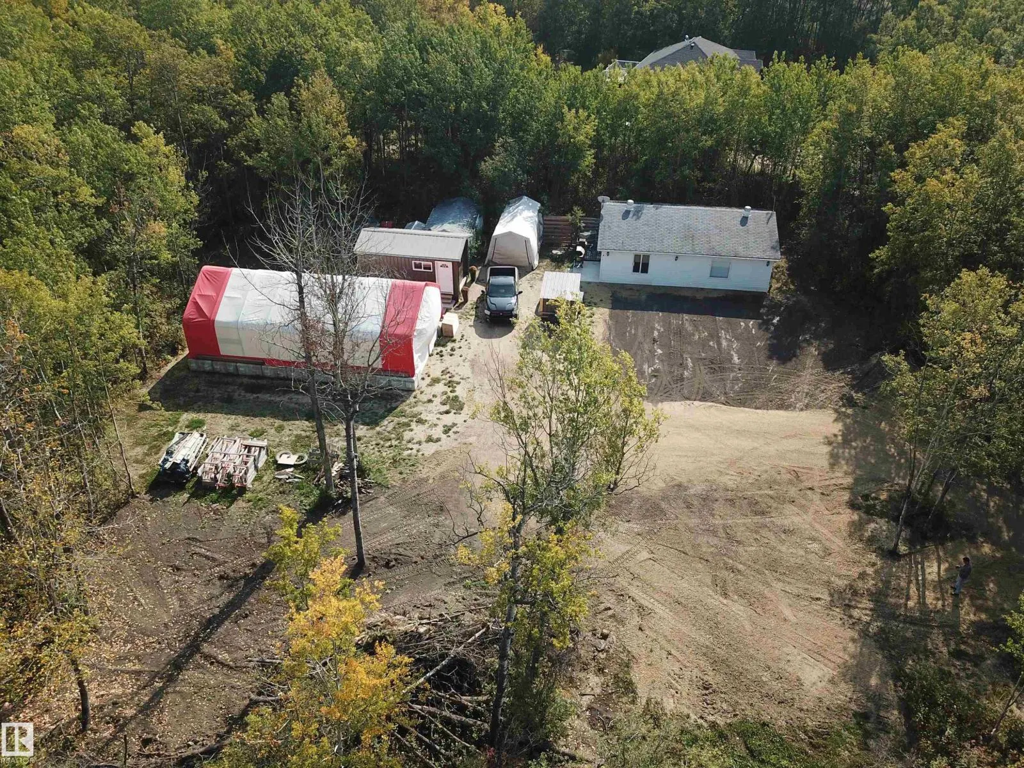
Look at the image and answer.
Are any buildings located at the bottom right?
No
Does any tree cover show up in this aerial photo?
Yes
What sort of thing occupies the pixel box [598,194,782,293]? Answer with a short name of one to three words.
house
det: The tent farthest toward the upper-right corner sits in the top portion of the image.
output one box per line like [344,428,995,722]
[485,195,545,268]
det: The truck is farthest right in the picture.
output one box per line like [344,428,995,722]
[484,270,523,323]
